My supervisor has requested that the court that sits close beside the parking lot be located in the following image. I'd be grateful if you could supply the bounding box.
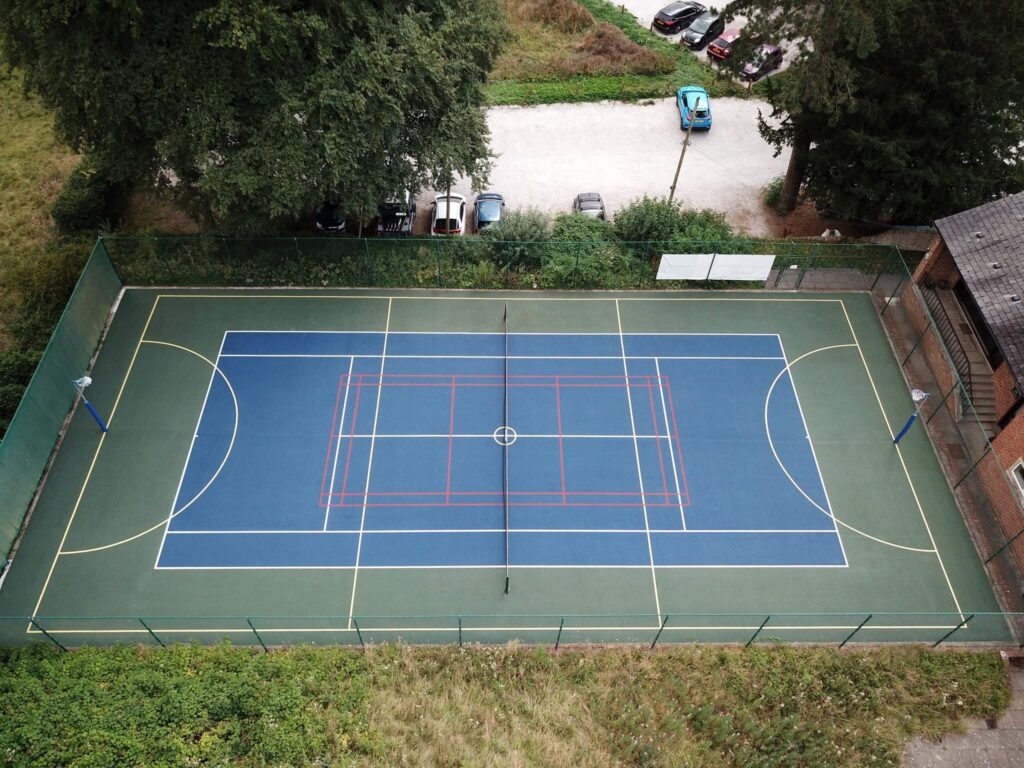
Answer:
[0,288,1021,646]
